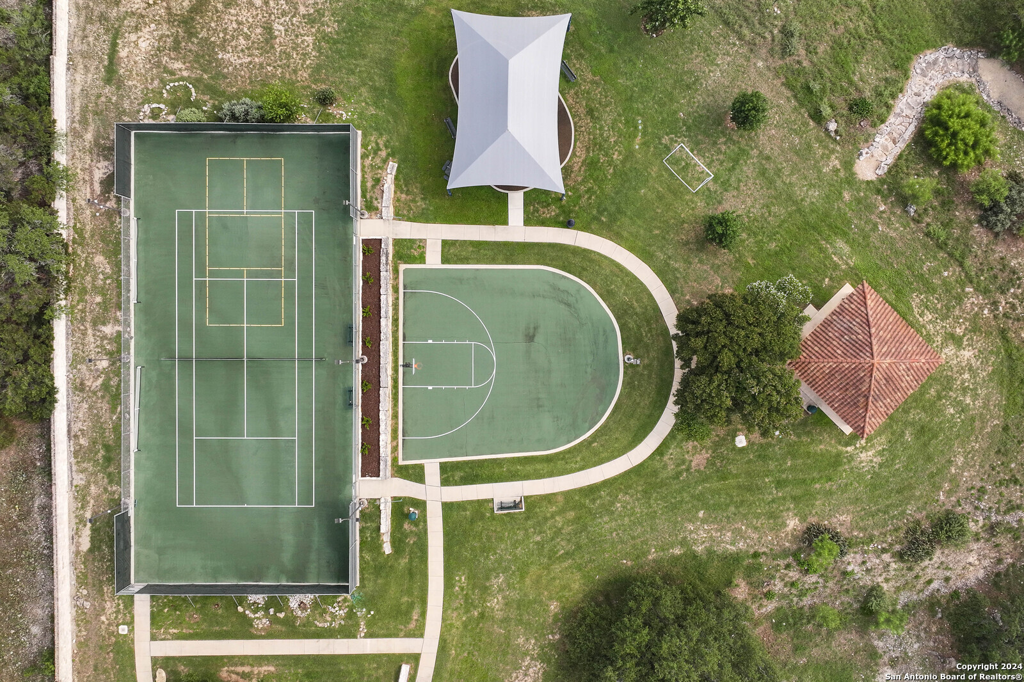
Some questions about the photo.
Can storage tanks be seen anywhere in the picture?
No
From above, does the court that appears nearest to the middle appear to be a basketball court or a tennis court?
basketball court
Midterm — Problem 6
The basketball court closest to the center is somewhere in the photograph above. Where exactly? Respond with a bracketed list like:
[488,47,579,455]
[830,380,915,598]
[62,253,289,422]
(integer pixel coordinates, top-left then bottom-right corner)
[400,265,623,465]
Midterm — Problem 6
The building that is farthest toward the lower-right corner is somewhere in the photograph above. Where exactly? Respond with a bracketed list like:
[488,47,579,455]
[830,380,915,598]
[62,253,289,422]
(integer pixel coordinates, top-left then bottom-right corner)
[779,281,944,439]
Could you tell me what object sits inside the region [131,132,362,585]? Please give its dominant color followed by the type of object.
green tennis court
